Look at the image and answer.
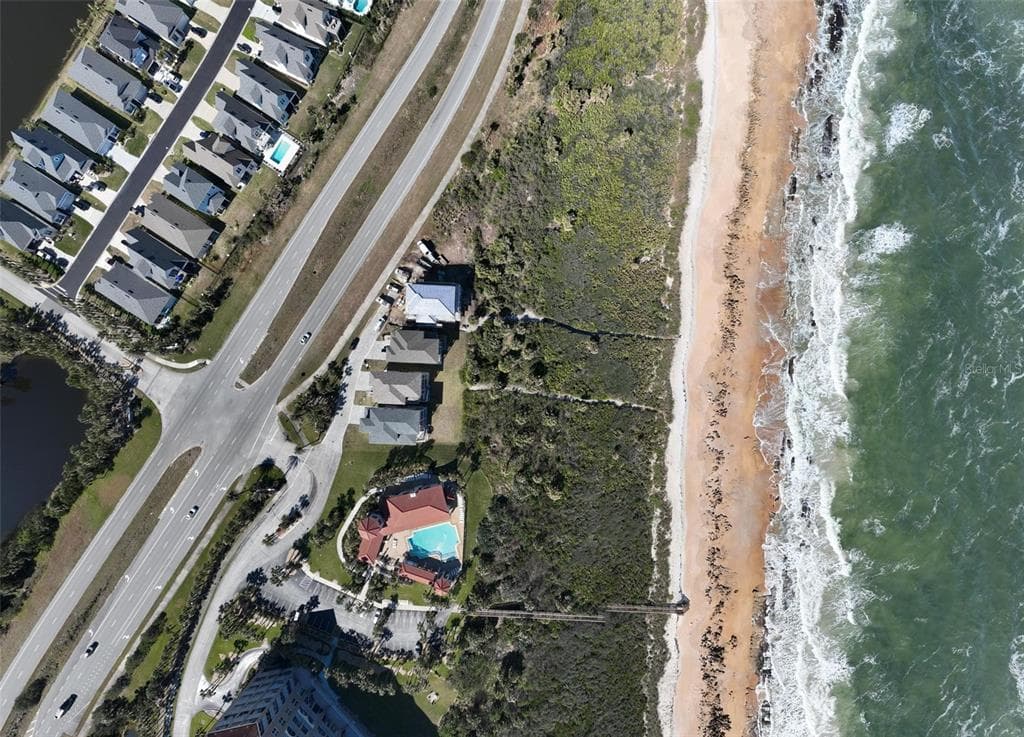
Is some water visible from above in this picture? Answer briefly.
Yes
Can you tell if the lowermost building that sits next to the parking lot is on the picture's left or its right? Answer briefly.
left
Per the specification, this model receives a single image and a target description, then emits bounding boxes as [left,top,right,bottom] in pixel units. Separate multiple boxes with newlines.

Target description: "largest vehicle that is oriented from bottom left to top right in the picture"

[55,697,73,718]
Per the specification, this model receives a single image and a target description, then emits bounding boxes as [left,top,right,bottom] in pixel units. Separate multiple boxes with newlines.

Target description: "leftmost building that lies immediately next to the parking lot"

[203,670,357,737]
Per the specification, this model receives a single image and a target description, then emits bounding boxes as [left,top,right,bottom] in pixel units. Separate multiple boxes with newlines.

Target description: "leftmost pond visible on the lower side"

[0,355,86,536]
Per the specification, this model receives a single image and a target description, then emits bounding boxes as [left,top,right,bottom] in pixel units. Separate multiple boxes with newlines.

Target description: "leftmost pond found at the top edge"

[0,0,90,150]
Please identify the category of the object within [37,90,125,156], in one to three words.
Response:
house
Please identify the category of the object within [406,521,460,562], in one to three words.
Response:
swimming pool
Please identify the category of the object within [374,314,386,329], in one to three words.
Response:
vehicle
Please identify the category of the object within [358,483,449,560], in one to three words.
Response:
building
